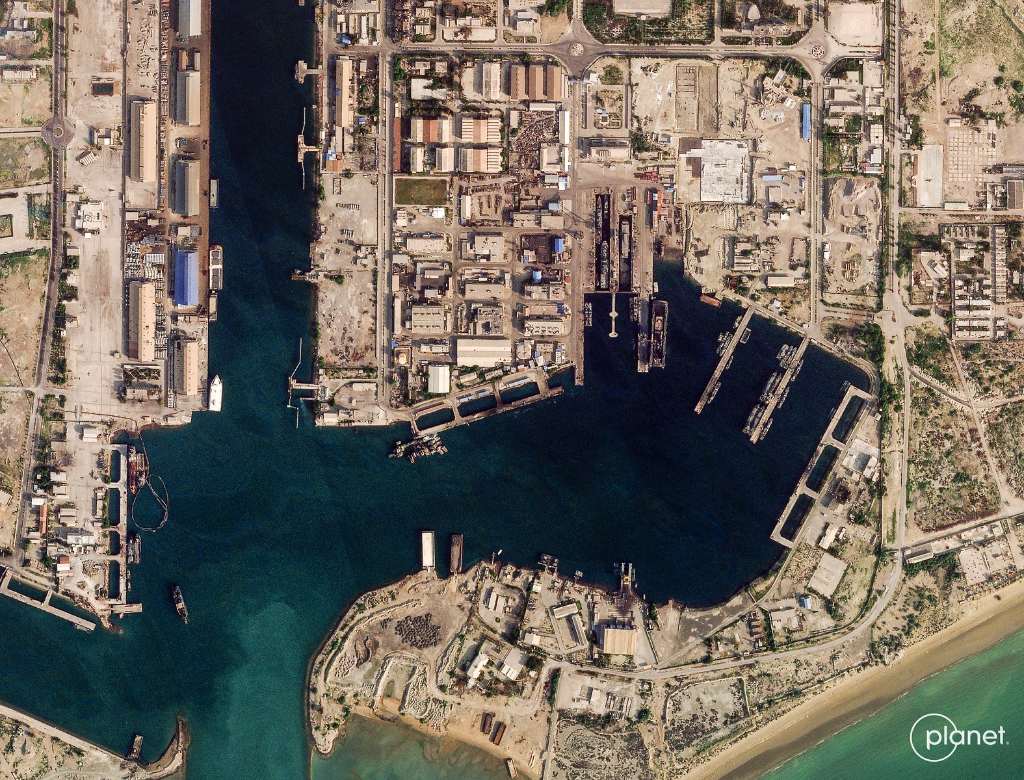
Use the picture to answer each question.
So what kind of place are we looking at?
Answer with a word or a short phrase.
port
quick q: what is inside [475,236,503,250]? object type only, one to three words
building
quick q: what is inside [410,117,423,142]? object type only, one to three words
shed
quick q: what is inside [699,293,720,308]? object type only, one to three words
ship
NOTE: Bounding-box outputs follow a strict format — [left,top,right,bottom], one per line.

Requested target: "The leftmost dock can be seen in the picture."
[0,567,95,631]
